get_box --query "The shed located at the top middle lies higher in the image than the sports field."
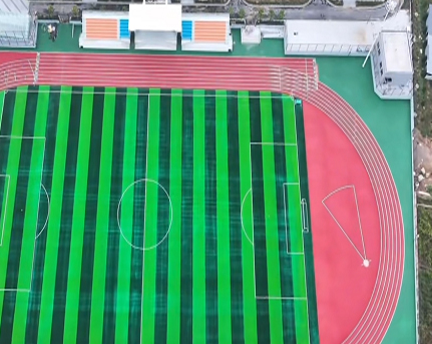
[241,28,263,43]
